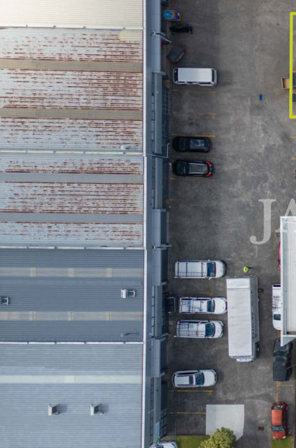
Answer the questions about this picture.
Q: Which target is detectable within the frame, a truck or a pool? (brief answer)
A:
truck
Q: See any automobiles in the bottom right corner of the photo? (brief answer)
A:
Yes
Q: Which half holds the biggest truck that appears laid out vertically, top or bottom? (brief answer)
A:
bottom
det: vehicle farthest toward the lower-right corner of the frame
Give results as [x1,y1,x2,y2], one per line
[269,401,289,438]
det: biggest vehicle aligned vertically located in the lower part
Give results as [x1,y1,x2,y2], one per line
[224,278,260,367]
